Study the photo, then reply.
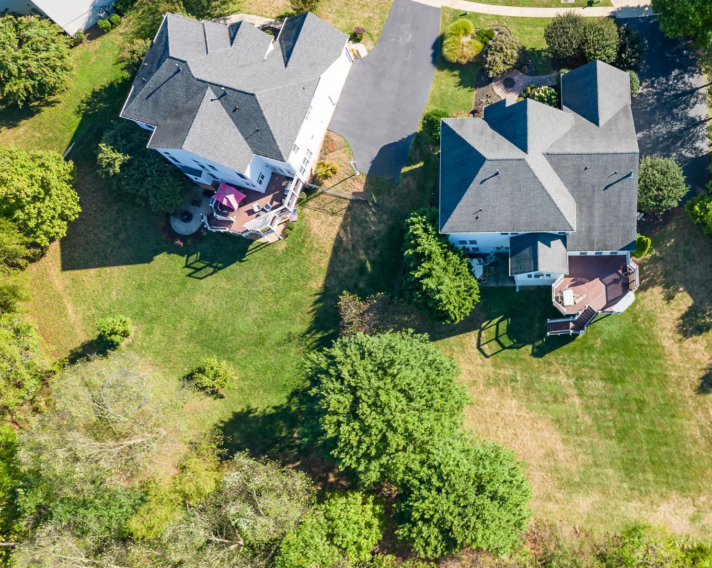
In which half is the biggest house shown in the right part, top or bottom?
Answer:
top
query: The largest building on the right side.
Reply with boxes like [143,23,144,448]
[439,60,639,281]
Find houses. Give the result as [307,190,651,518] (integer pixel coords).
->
[119,12,352,192]
[32,0,113,35]
[439,60,639,281]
